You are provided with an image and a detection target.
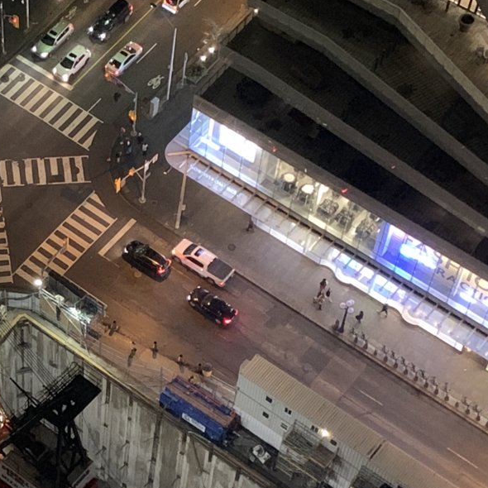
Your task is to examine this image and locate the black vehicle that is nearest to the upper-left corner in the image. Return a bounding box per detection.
[91,0,132,38]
